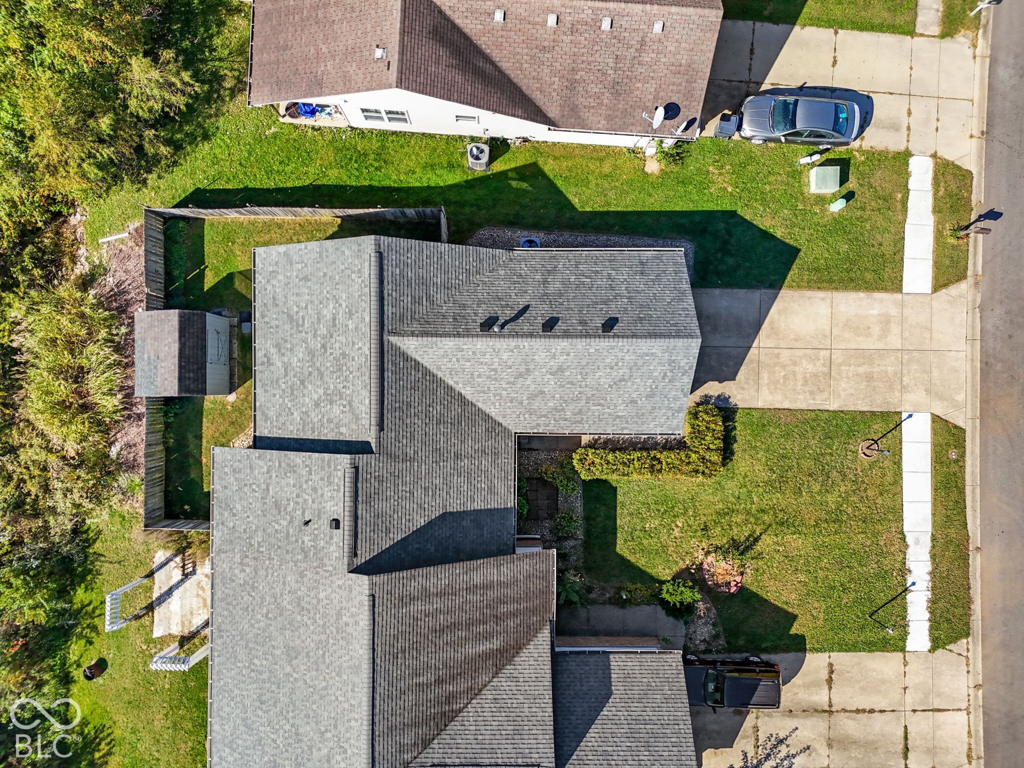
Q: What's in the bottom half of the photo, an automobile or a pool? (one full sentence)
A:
The one visible in the bottom half of the photo is an automobile.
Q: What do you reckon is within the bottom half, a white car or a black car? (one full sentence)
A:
What appears within the bottom half is a black car.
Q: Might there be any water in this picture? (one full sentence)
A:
No, there is no water in the image.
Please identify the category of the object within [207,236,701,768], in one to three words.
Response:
house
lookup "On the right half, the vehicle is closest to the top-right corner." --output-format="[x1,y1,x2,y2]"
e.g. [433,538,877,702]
[737,85,859,147]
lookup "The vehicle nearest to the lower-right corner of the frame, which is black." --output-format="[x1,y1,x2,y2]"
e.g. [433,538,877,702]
[684,654,786,717]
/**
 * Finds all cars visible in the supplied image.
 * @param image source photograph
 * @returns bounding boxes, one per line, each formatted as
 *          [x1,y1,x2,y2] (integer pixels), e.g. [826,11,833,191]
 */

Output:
[684,654,786,717]
[737,85,859,147]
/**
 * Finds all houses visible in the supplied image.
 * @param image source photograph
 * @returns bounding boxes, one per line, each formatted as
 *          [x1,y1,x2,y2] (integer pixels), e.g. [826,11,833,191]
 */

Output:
[245,0,724,154]
[207,236,701,768]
